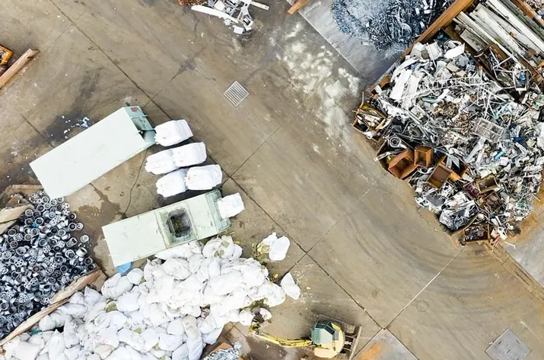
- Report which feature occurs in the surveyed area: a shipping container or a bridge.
shipping container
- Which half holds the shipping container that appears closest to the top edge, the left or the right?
left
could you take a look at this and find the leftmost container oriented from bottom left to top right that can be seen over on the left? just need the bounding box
[27,106,161,199]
